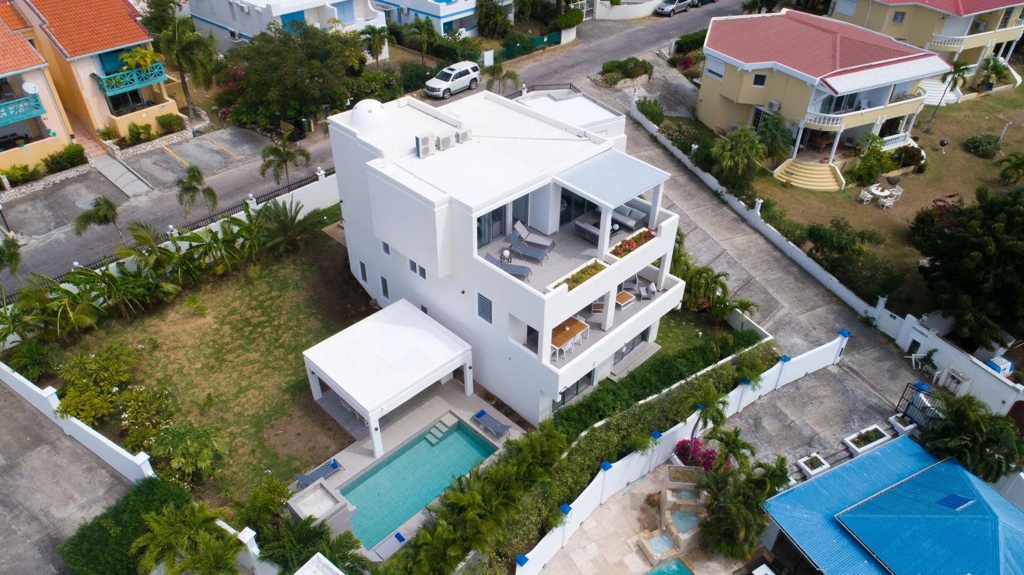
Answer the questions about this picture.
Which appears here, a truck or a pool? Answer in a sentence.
There is a pool in the scene.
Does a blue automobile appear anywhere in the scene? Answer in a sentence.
No, no blue automobile can be seen from above.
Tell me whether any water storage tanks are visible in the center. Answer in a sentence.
No, in the center there is no water storage tank.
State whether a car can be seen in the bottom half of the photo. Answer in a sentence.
No, the scene shows no car in the bottom half of the photo.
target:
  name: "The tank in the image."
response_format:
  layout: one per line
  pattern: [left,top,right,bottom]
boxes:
[984,352,1023,379]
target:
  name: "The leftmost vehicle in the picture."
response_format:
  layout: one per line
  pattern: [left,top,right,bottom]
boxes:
[420,59,483,100]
